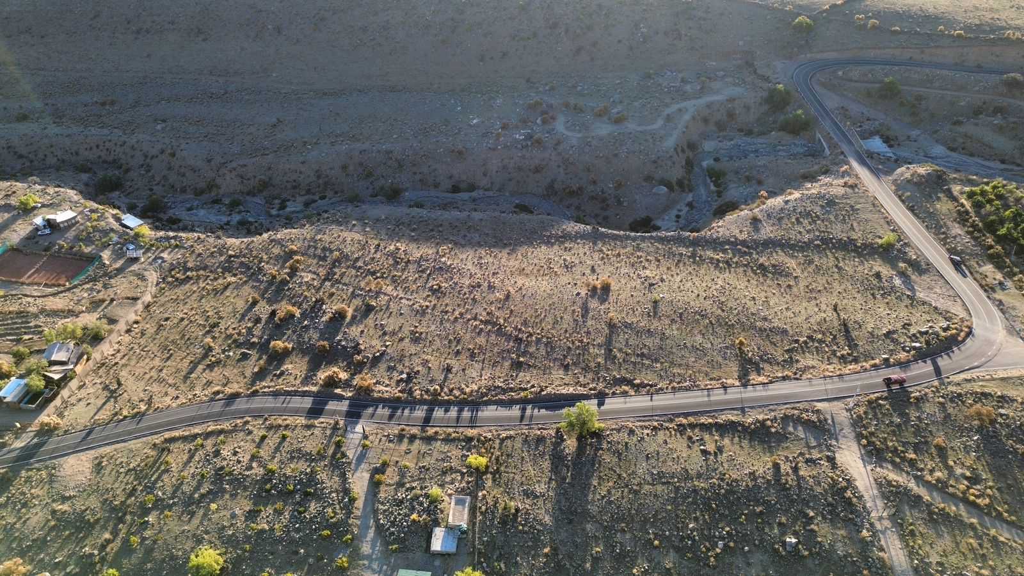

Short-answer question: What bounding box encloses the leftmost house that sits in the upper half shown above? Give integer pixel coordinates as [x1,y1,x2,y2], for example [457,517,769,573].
[25,209,81,236]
